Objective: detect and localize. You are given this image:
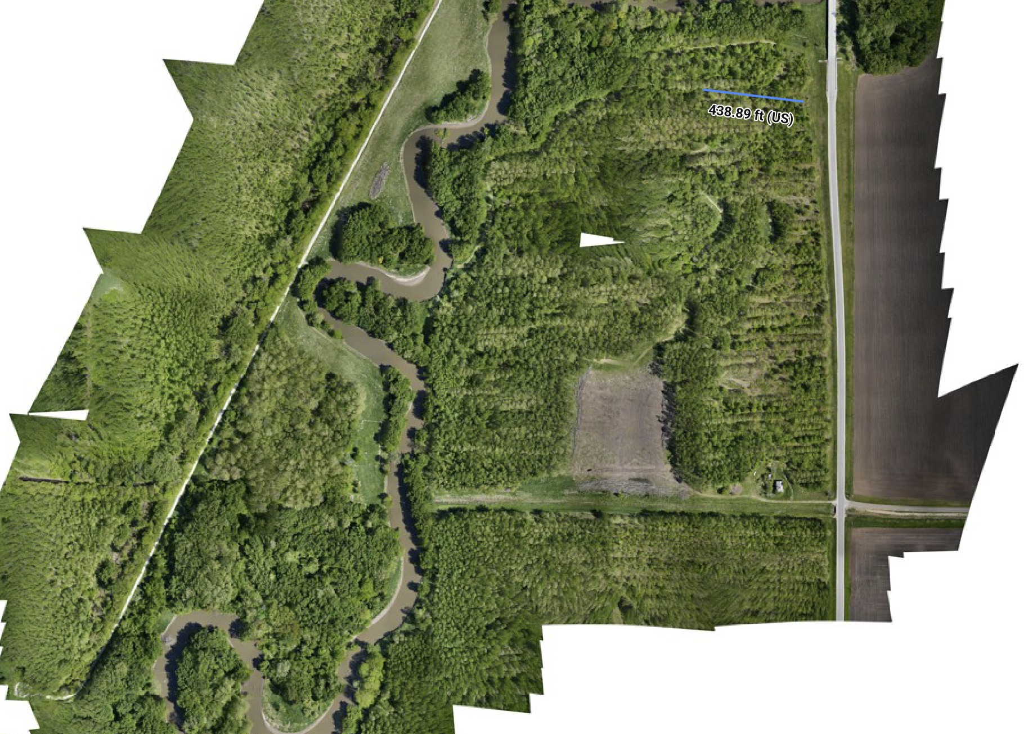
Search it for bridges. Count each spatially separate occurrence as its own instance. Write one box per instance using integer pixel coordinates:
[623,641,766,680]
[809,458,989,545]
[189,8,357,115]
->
[819,0,844,91]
